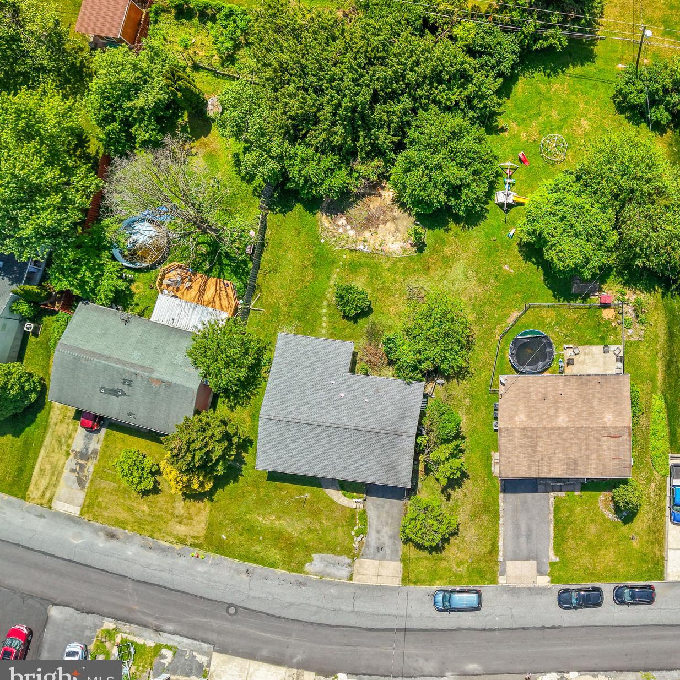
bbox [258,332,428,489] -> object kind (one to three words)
house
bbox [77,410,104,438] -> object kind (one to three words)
car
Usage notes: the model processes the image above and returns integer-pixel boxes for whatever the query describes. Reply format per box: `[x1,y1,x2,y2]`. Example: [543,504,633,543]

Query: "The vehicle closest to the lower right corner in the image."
[613,584,656,607]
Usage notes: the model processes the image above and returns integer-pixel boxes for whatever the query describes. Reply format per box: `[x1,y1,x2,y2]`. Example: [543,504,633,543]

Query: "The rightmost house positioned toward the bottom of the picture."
[498,374,632,479]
